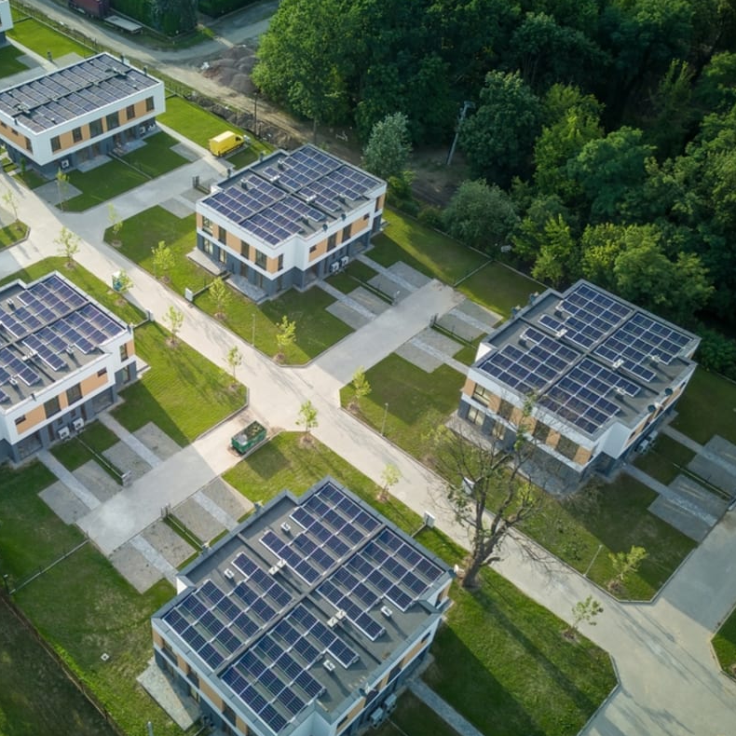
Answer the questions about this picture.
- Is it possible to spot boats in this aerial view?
No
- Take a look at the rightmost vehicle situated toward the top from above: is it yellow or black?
yellow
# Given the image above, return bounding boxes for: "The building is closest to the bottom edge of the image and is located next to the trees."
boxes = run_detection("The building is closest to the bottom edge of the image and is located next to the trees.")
[132,477,463,736]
